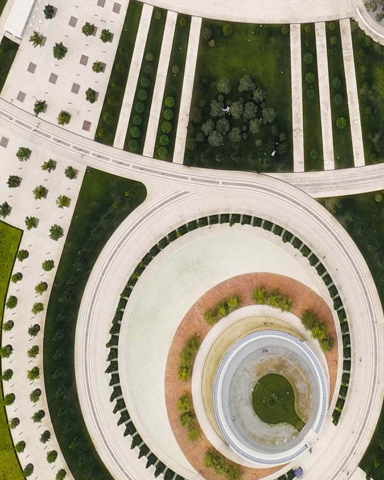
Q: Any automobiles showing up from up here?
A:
No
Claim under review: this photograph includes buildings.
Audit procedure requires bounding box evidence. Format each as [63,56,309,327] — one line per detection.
[3,0,40,44]
[212,326,330,465]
